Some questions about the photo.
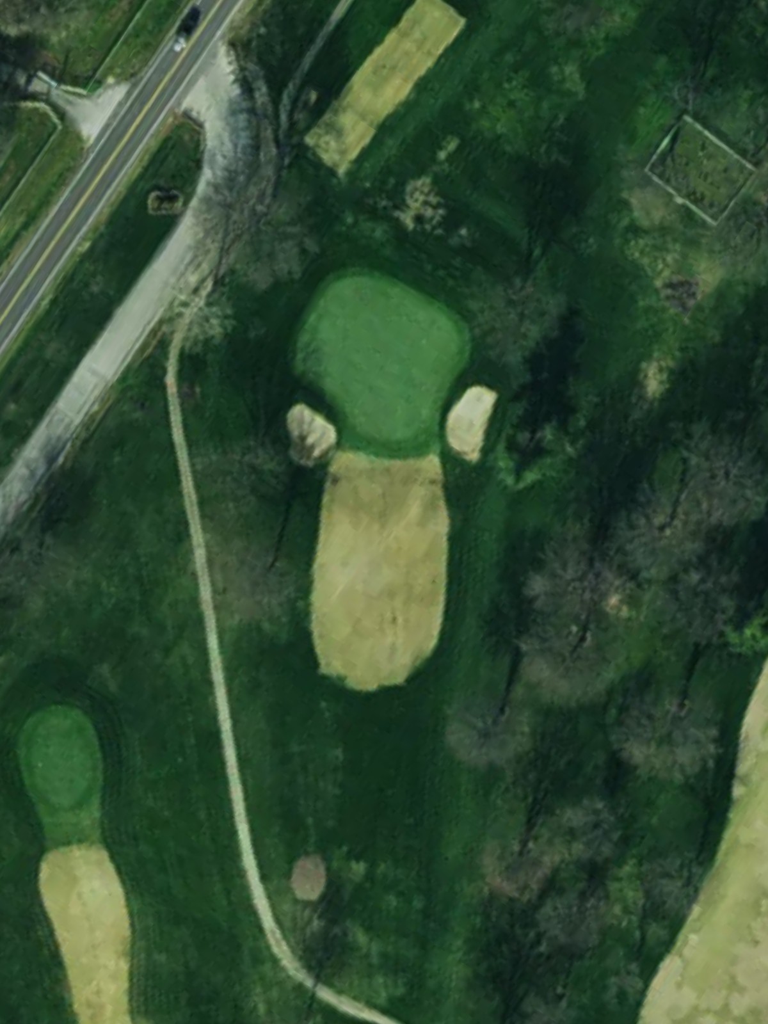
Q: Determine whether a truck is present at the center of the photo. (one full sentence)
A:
No, there's no truck to be seen at the center of the photo.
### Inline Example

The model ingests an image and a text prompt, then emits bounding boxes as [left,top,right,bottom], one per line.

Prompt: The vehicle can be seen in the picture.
[171,9,202,48]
